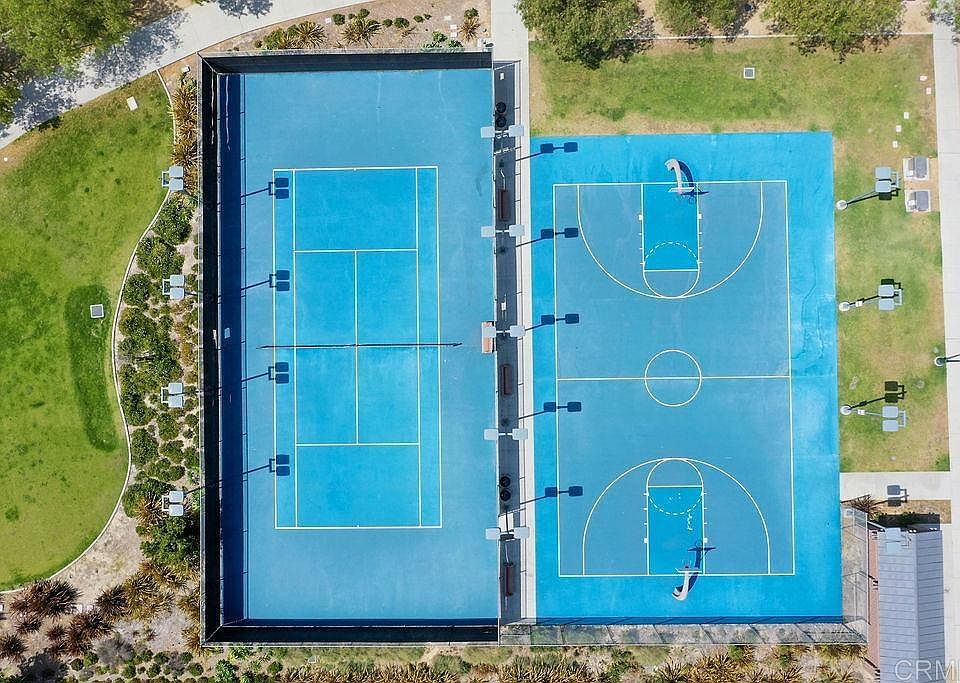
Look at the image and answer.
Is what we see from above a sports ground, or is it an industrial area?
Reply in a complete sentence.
This image shows a sports ground.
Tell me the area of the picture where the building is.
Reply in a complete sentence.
The building is in the bottom right part of the image.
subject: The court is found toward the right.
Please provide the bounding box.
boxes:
[530,132,843,625]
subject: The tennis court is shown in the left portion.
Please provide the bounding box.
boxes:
[222,67,501,627]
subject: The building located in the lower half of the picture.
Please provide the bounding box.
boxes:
[866,521,947,683]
